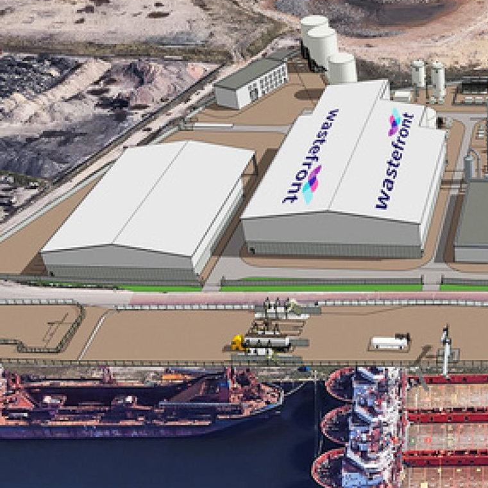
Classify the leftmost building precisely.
warehouse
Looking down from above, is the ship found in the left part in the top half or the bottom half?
bottom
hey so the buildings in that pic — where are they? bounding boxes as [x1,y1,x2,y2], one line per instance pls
[455,180,488,265]
[39,139,256,282]
[241,76,448,258]
[214,53,301,106]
